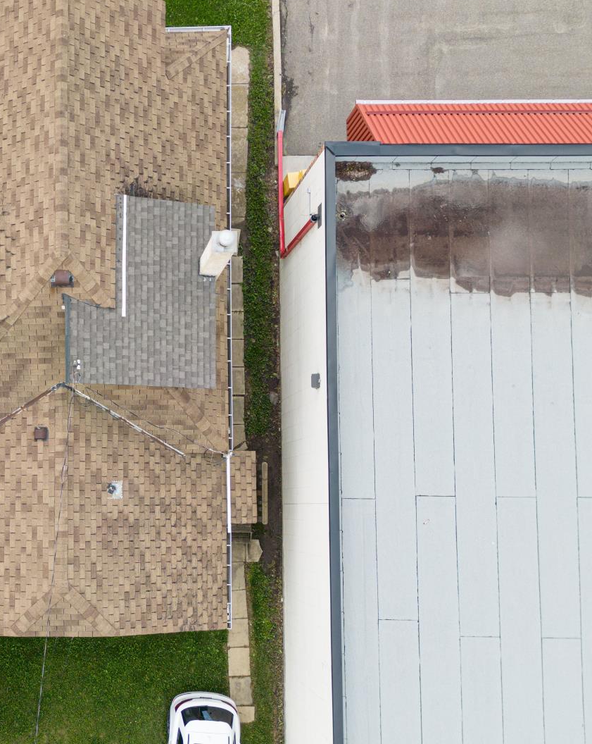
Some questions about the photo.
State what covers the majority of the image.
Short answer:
buildings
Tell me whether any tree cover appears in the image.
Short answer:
No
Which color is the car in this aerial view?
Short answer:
white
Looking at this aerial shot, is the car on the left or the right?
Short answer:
left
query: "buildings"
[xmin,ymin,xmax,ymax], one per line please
[272,102,592,744]
[0,0,237,641]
